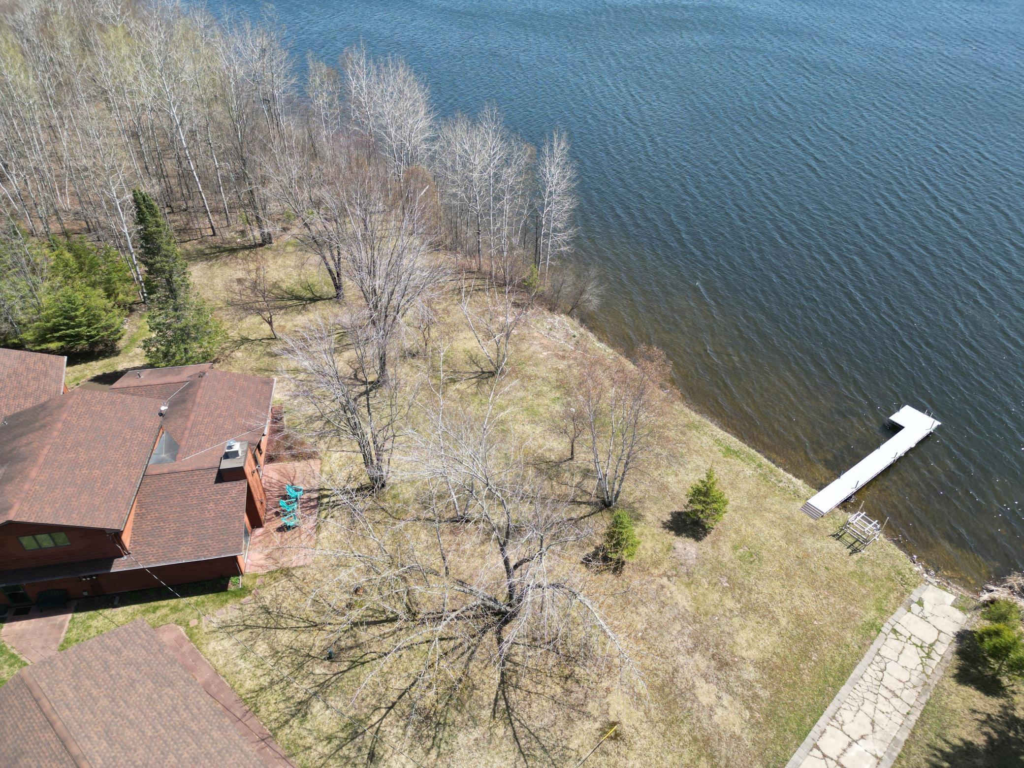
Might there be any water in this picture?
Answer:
Yes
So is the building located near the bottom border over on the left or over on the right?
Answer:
left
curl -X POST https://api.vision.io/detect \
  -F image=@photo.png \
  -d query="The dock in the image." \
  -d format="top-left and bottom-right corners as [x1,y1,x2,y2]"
[798,404,941,520]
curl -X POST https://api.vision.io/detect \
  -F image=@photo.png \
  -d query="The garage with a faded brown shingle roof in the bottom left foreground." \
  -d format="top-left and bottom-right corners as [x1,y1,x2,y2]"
[0,619,268,768]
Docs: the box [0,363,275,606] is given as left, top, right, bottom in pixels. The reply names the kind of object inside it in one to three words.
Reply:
house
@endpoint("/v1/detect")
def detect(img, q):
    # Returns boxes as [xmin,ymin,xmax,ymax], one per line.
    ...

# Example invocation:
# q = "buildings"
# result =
[0,363,275,606]
[0,619,268,768]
